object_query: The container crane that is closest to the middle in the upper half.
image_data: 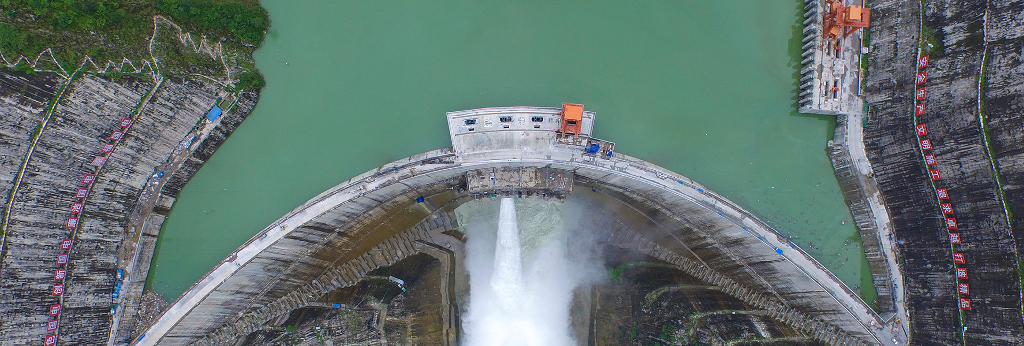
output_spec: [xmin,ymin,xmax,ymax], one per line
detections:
[554,104,584,136]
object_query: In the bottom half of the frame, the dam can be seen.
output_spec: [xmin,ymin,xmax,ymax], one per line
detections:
[126,106,897,346]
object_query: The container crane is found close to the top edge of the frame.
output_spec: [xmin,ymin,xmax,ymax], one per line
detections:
[822,1,871,40]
